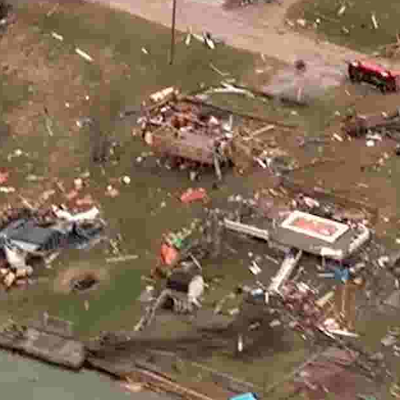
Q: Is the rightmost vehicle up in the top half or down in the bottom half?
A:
top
